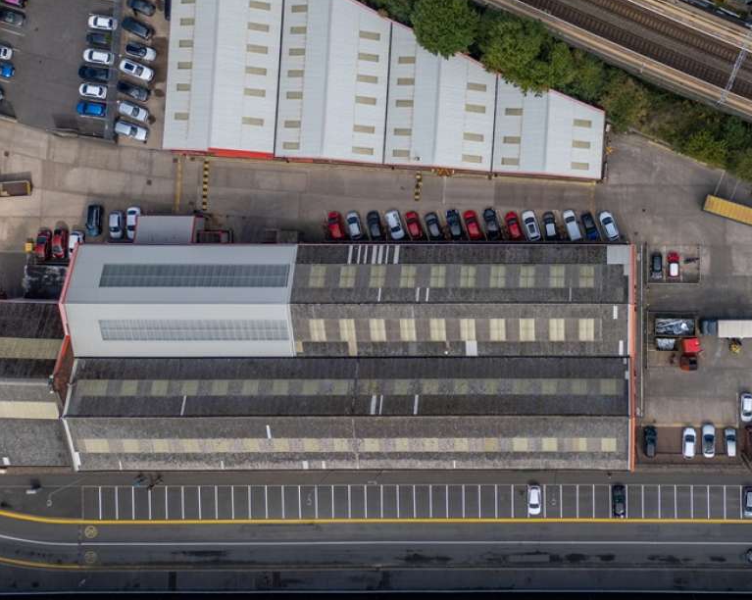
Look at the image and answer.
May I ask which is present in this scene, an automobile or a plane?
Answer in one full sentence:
I can see an automobile in this picture.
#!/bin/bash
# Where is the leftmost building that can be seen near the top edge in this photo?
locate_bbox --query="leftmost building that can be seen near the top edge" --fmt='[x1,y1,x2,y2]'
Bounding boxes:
[163,0,606,182]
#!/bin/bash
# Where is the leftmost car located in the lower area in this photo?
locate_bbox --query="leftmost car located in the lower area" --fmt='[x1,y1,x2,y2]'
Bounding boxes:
[527,485,542,514]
